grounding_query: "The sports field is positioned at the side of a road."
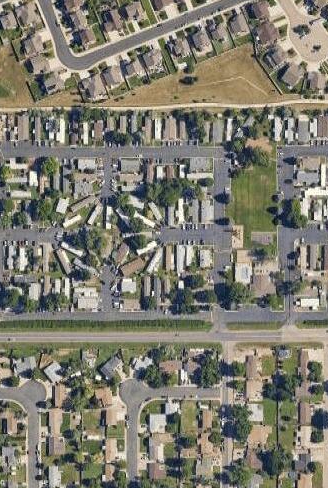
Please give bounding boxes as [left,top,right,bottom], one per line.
[232,165,276,231]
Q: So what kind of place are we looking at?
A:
residential area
